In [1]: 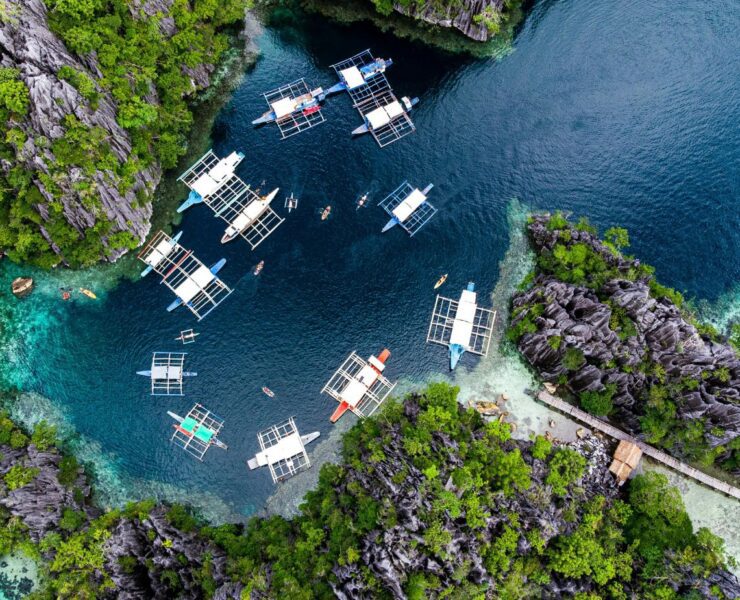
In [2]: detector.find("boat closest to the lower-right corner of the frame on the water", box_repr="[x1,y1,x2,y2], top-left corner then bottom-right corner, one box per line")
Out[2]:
[426,281,497,372]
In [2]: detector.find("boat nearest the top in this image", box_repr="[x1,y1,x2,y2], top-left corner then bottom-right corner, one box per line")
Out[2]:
[324,48,394,106]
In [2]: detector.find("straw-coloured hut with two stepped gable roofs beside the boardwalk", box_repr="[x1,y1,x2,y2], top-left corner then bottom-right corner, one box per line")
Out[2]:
[603,438,641,479]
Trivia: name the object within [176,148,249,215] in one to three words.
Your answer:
boat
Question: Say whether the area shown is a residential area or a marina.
marina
